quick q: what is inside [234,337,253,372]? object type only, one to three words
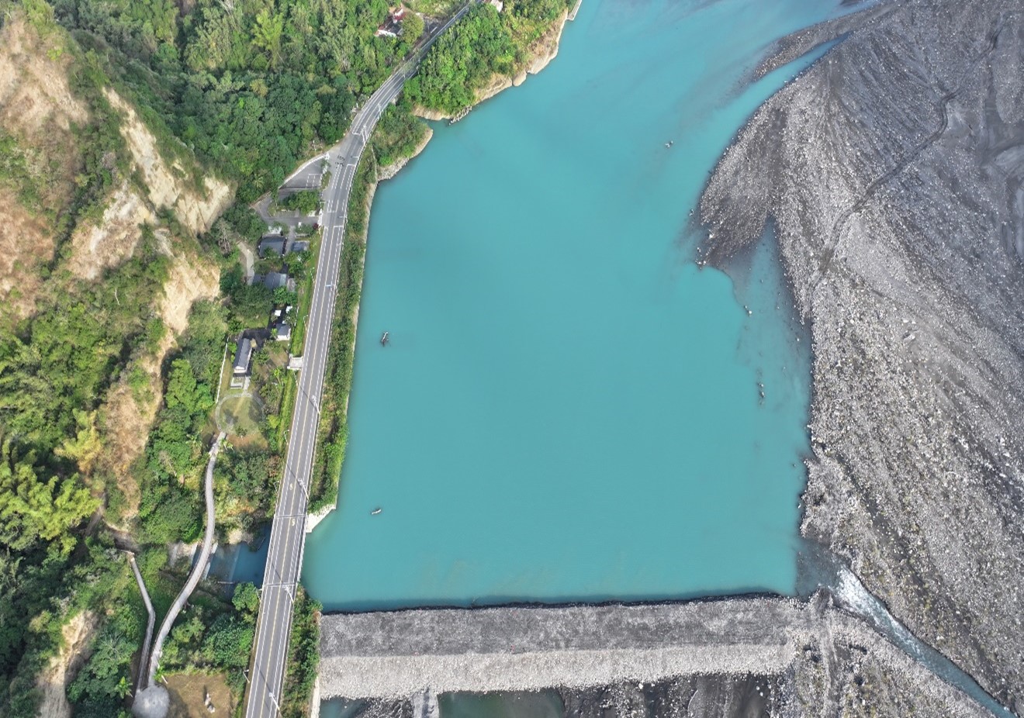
house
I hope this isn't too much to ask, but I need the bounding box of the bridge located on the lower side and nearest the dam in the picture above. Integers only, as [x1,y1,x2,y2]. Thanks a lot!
[260,506,311,594]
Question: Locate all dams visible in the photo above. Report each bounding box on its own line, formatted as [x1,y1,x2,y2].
[313,591,808,716]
